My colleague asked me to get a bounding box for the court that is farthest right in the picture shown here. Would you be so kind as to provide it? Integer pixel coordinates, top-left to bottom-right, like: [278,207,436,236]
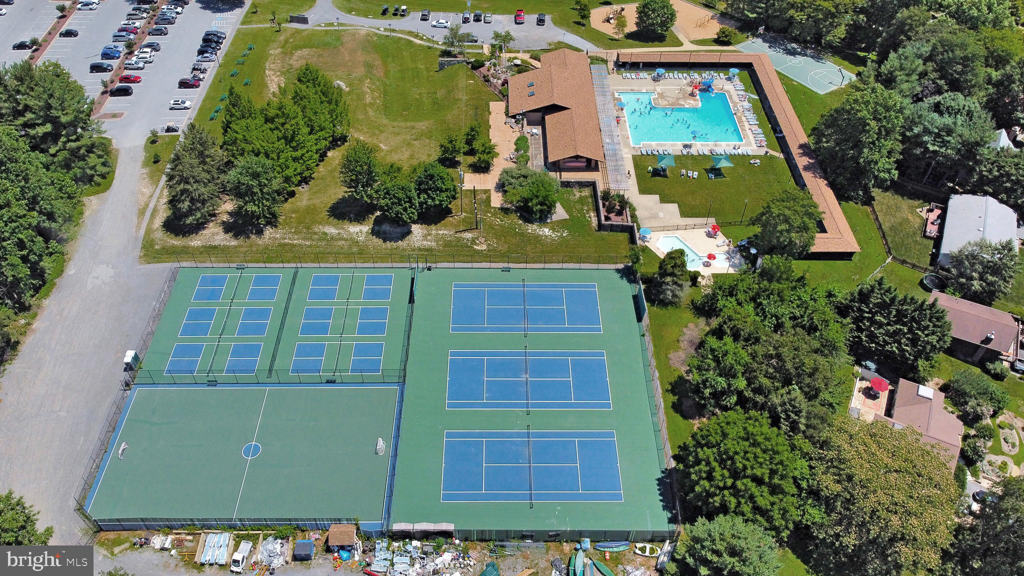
[735,32,856,94]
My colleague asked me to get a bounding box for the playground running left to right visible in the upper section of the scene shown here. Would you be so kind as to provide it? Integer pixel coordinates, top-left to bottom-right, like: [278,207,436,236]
[591,0,738,41]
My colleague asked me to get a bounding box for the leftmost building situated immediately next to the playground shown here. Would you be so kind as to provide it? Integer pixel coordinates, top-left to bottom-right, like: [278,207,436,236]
[509,48,605,175]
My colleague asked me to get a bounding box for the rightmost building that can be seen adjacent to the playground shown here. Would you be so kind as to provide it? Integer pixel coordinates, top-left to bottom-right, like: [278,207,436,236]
[617,51,862,261]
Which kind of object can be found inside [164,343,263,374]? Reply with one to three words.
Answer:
sports court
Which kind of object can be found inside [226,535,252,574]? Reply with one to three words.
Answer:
truck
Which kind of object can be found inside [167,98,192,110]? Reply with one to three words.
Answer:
vehicle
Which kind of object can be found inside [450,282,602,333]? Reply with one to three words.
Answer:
tennis court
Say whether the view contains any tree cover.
Yes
